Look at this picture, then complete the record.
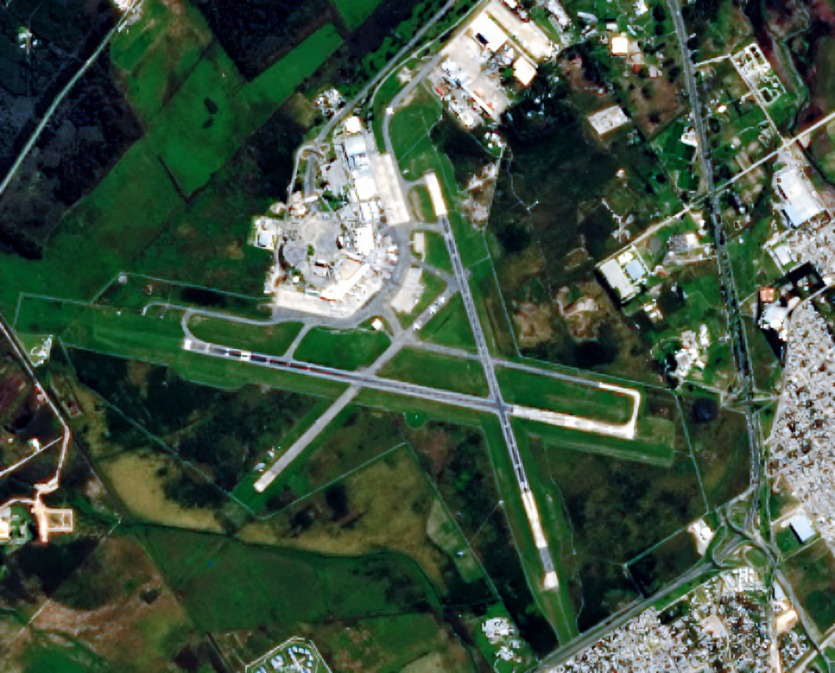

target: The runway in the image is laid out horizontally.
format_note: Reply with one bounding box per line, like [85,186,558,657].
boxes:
[183,339,635,439]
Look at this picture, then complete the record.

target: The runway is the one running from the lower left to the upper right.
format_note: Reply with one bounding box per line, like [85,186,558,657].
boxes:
[255,285,469,492]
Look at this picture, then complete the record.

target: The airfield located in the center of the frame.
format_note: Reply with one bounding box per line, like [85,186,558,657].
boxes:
[142,32,640,592]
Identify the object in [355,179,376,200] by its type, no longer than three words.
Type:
hangar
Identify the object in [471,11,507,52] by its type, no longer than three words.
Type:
building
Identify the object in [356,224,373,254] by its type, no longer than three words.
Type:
building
